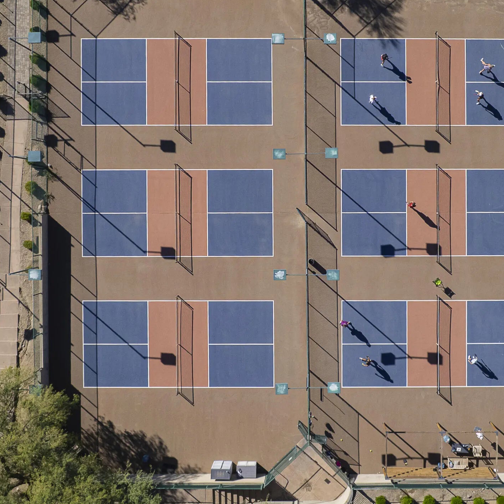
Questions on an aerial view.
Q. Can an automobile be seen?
No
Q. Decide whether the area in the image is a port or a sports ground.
sports ground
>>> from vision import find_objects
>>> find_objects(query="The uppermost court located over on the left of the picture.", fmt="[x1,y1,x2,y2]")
[81,38,273,125]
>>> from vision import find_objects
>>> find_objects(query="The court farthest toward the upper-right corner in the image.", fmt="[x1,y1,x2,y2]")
[340,38,504,125]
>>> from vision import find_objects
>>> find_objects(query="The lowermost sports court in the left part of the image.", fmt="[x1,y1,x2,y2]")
[83,300,274,388]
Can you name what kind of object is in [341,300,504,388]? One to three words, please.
sports court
